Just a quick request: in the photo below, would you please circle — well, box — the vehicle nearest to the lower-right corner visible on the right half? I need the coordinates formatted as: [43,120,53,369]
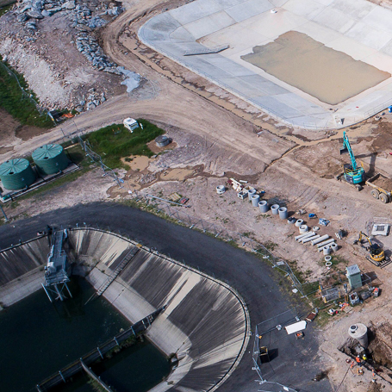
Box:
[360,229,386,270]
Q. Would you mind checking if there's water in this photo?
Yes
